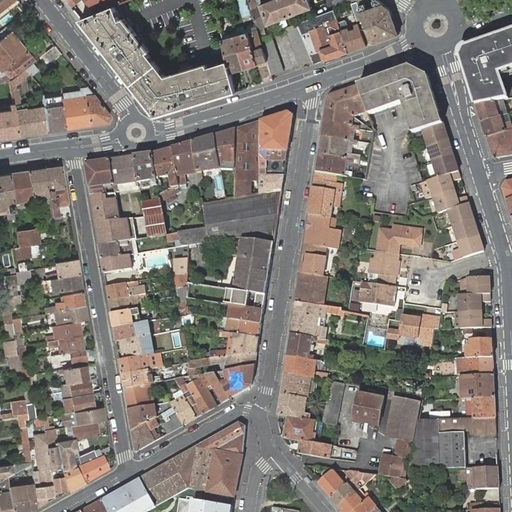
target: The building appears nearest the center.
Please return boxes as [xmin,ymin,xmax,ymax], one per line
[232,238,273,292]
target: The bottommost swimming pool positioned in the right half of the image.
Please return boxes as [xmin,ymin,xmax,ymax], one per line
[366,330,387,348]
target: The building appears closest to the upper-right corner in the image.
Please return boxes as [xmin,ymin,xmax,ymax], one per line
[456,24,512,102]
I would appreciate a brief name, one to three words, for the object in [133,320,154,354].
building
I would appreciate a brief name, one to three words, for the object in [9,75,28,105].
shed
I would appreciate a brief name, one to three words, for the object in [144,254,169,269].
swimming pool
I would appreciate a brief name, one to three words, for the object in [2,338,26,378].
house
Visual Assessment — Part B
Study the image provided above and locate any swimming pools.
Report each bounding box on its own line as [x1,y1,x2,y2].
[366,330,387,348]
[144,254,169,269]
[213,174,224,192]
[2,253,11,268]
[170,331,182,348]
[238,0,250,18]
[0,12,14,27]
